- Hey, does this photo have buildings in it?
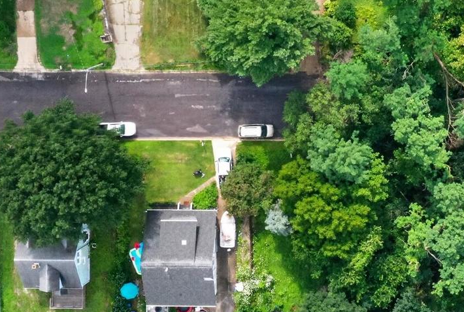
Yes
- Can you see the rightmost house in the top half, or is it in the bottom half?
bottom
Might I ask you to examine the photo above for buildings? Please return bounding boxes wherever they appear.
[13,226,90,291]
[142,209,219,308]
